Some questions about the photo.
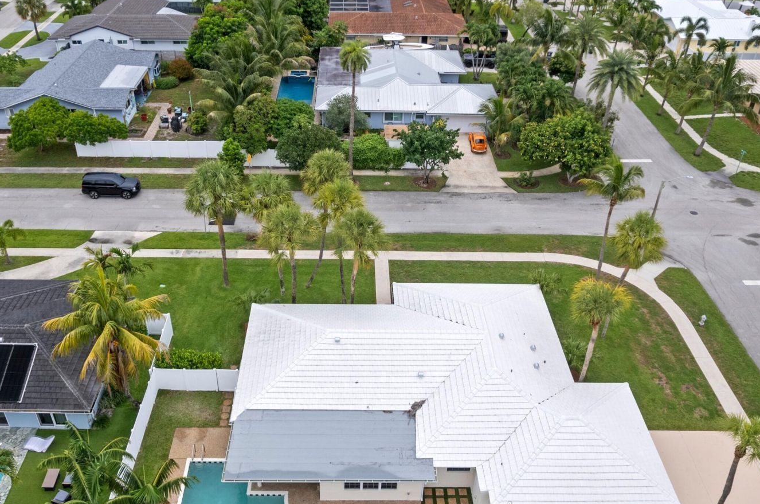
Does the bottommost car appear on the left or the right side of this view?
left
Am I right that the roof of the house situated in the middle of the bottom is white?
Yes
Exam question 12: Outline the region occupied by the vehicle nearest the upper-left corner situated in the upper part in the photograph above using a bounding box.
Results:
[80,171,145,200]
